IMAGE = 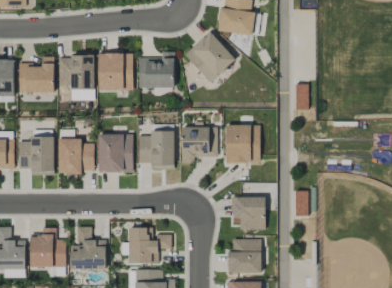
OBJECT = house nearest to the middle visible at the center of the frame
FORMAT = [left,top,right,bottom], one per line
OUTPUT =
[182,120,220,164]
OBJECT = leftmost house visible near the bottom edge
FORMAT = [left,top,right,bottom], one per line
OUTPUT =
[0,228,26,278]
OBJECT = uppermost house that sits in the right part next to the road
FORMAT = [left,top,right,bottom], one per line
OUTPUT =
[220,0,268,36]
